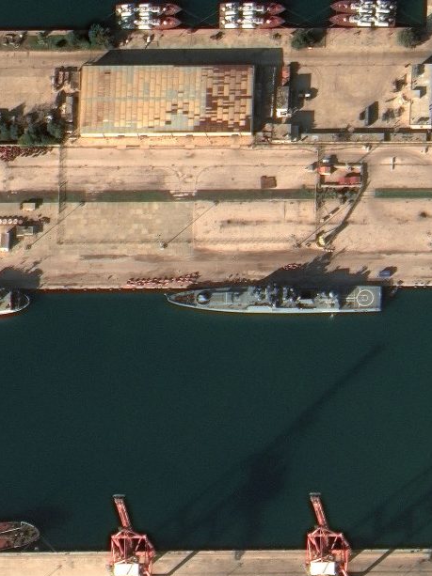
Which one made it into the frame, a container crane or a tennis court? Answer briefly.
container crane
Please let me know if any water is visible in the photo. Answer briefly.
Yes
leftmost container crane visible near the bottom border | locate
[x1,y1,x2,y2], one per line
[108,498,160,576]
